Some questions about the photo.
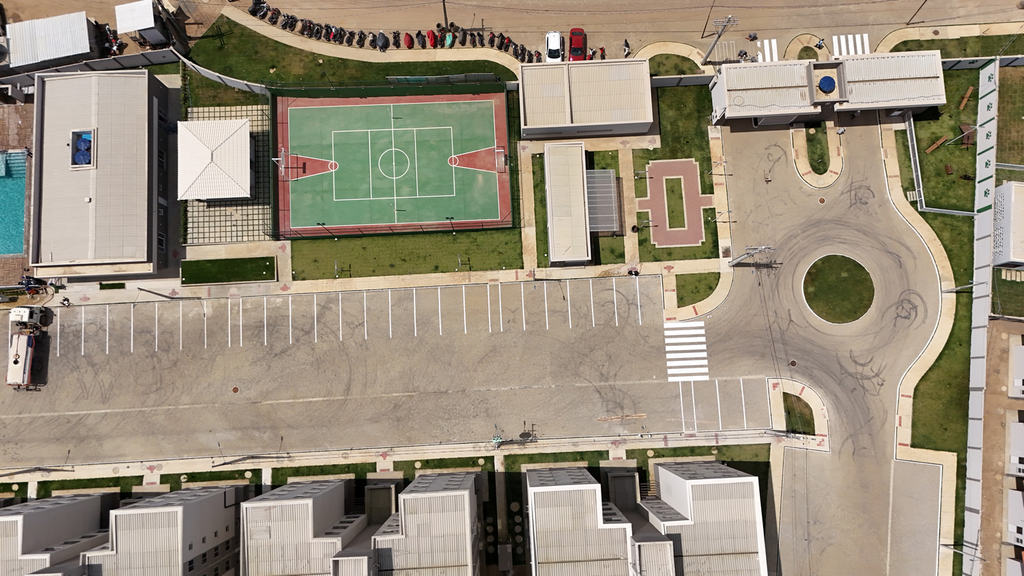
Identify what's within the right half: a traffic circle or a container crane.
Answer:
traffic circle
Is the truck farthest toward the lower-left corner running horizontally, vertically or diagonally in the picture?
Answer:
vertically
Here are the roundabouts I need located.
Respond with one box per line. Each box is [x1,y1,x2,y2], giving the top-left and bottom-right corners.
[803,254,876,326]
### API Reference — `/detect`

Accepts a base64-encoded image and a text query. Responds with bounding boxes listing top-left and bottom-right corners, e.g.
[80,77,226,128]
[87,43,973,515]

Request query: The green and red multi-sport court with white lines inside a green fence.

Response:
[276,91,512,236]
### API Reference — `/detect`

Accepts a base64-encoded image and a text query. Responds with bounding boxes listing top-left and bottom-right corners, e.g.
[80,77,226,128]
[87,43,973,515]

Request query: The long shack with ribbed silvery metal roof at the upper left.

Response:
[6,11,101,67]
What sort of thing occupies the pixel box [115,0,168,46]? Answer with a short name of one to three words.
shed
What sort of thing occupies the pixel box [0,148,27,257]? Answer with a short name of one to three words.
swimming pool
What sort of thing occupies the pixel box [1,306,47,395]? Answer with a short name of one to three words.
truck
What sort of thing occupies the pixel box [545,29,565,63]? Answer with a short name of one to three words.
car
